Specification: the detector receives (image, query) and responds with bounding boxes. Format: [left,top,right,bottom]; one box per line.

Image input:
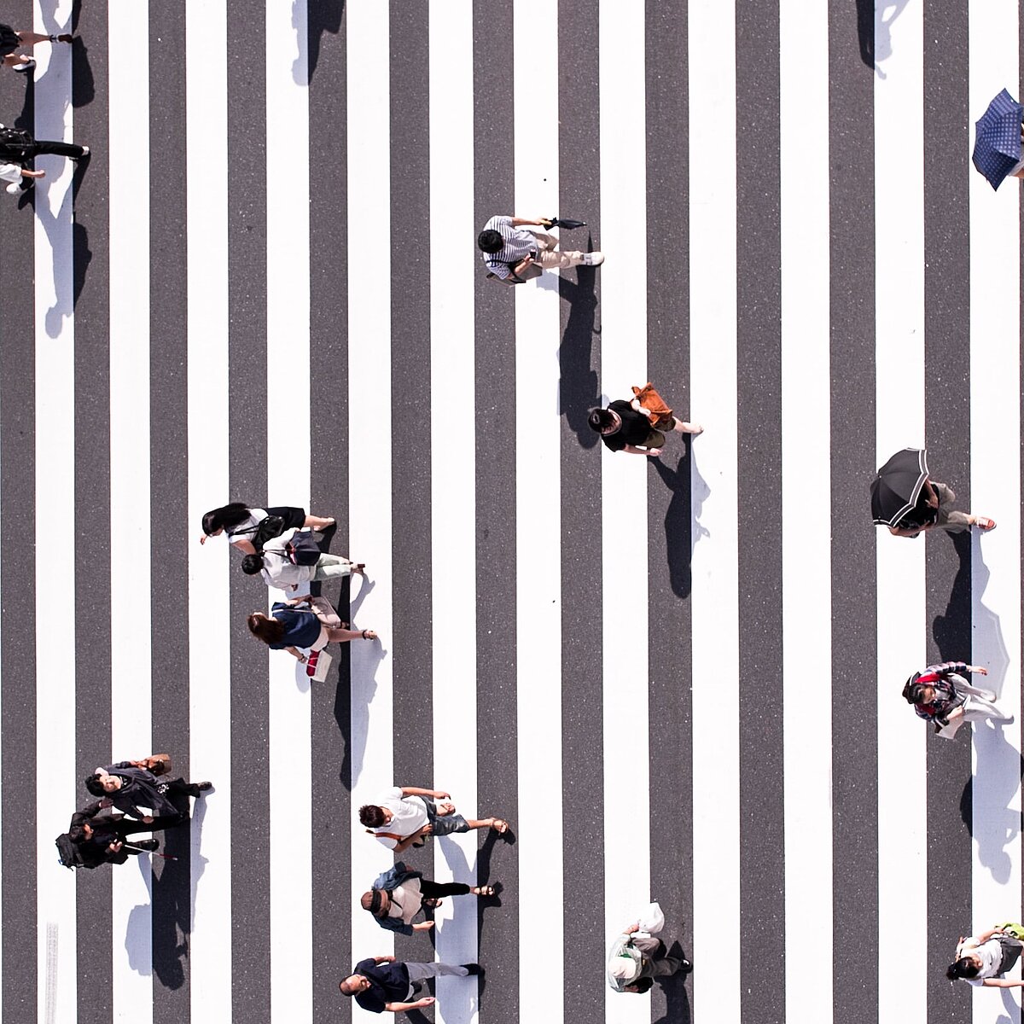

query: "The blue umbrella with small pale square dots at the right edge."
[972,87,1024,200]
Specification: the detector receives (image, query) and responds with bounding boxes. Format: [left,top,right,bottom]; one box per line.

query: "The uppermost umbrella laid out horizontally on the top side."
[535,217,588,231]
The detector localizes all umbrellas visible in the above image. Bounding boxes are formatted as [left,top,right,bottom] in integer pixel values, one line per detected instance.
[972,87,1024,200]
[535,217,588,231]
[870,446,958,526]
